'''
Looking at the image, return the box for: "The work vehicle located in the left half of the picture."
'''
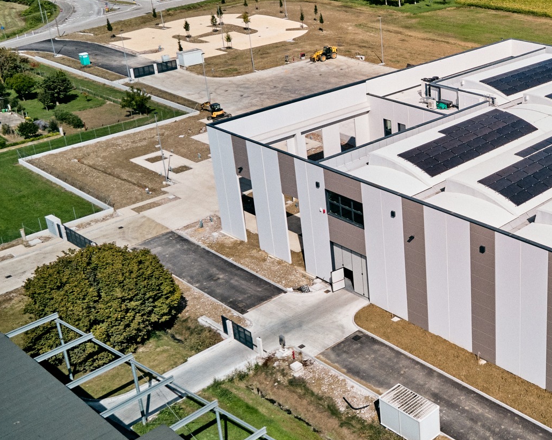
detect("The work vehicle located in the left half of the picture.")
[195,101,228,120]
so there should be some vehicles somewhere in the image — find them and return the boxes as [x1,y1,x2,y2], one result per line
[310,46,340,64]
[195,101,228,120]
